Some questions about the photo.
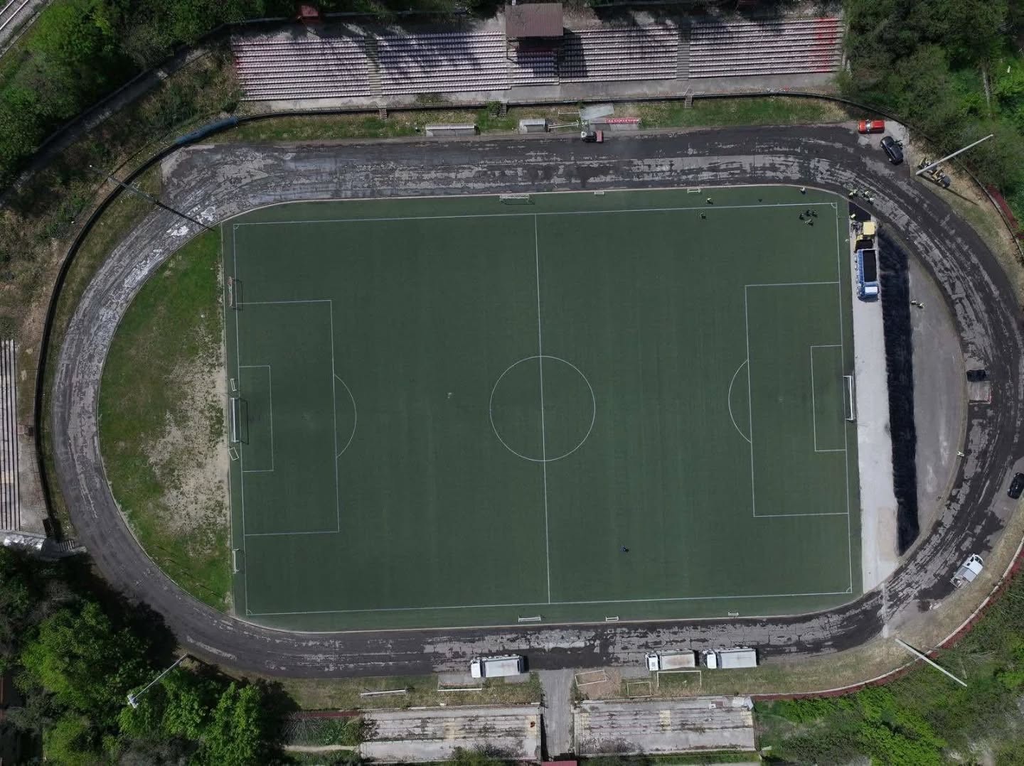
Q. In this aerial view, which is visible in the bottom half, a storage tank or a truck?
truck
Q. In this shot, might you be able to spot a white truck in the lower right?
Yes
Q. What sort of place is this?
sports ground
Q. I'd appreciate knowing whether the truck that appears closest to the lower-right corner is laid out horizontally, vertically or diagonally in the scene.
diagonally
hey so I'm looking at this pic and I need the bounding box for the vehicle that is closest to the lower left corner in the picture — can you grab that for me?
[470,653,525,678]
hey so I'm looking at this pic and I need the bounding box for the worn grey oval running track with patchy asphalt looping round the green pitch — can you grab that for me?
[52,119,1024,678]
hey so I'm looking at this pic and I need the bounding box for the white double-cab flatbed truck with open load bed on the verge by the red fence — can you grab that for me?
[947,553,983,591]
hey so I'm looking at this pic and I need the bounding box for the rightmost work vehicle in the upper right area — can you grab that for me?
[919,163,951,192]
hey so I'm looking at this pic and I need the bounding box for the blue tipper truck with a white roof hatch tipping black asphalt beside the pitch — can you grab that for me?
[854,248,879,298]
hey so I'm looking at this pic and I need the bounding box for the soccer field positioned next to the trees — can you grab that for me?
[221,186,863,632]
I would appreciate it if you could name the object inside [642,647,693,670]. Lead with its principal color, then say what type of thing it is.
white truck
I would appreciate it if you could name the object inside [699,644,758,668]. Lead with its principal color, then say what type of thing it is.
white truck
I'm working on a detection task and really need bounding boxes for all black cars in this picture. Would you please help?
[1007,472,1024,499]
[882,138,902,165]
